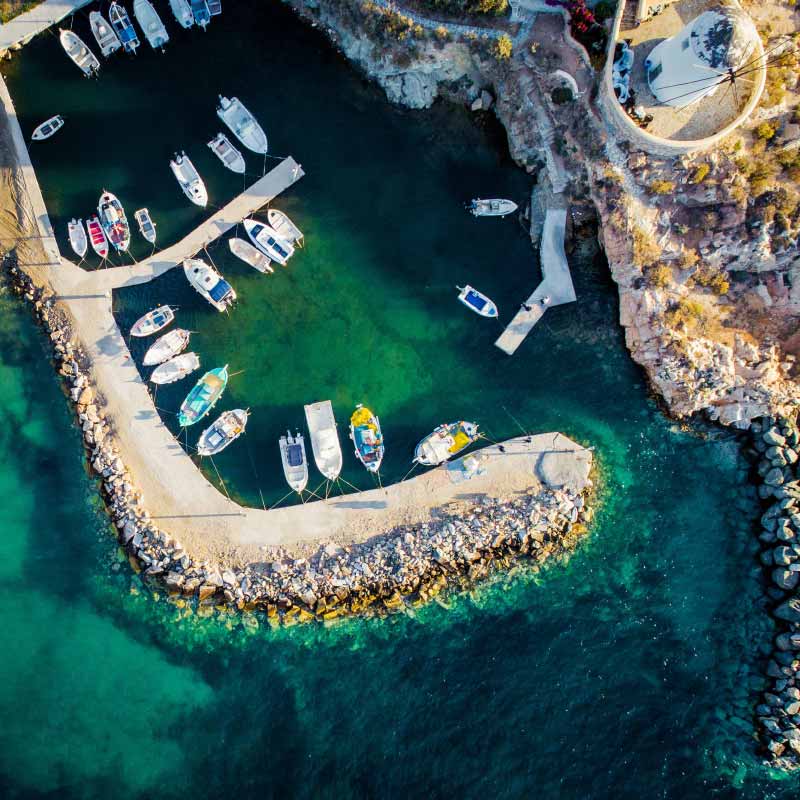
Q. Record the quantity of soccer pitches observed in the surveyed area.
0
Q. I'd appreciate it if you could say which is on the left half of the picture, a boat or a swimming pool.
boat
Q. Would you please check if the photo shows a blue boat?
Yes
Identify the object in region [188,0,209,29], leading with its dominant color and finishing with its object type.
blue boat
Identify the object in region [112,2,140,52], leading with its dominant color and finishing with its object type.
blue boat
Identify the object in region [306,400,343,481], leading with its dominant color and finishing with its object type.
white boat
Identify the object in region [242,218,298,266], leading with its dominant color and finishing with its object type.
white boat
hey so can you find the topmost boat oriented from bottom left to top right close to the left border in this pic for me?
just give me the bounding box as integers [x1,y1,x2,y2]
[31,114,66,140]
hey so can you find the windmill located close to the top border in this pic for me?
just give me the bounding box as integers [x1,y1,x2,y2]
[640,6,800,123]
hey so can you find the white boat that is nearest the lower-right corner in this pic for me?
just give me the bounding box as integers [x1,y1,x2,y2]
[413,427,480,465]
